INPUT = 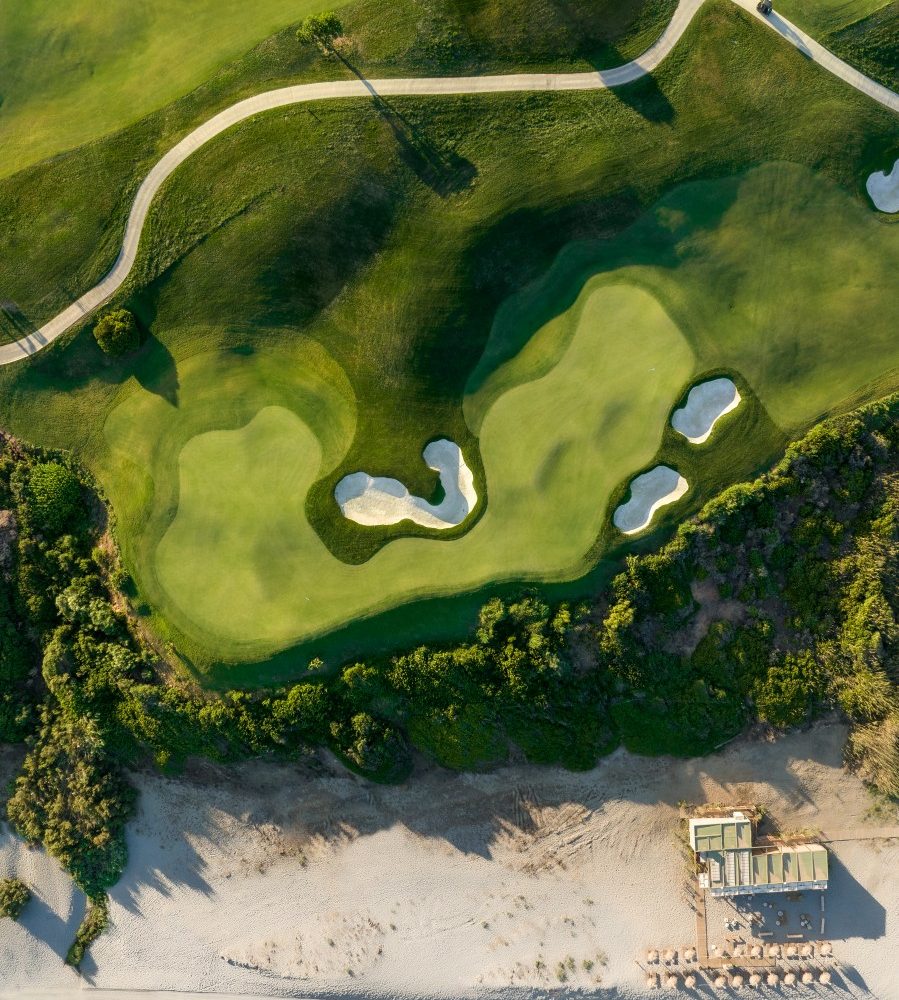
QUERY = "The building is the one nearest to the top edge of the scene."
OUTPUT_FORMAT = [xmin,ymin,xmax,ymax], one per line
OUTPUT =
[687,813,829,896]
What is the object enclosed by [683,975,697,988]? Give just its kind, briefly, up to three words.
umbrella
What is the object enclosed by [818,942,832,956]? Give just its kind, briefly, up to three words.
umbrella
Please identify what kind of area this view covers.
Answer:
golf course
